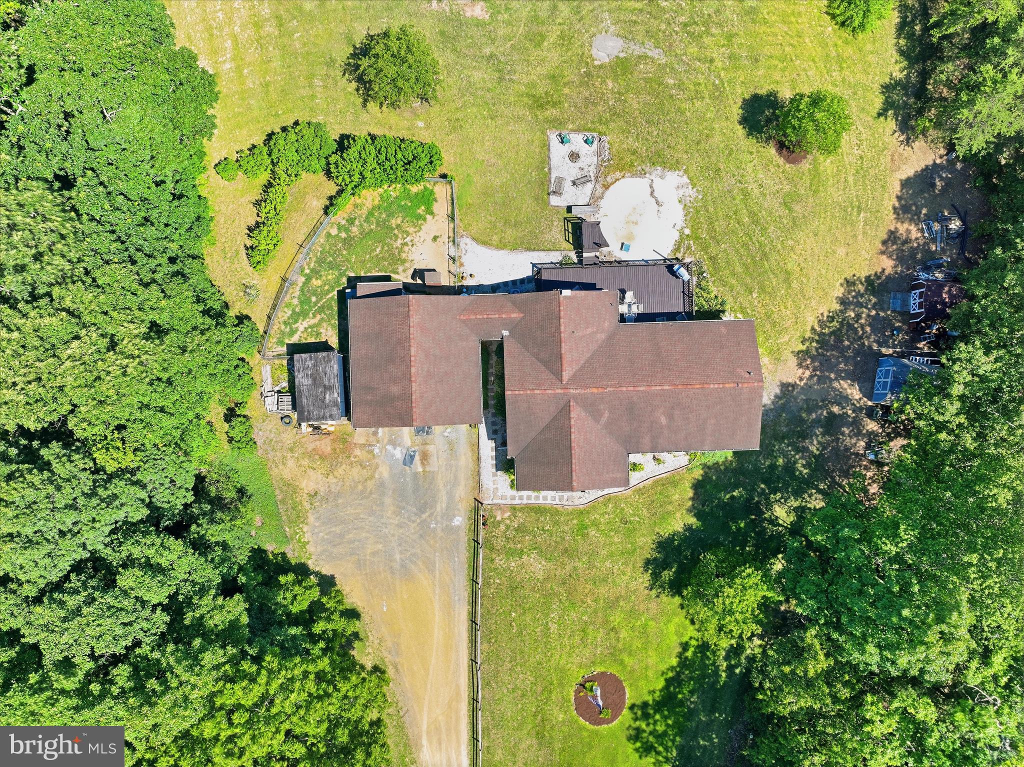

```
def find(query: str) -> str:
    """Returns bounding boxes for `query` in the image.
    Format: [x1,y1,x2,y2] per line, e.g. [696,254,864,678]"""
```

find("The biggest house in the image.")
[346,281,765,492]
